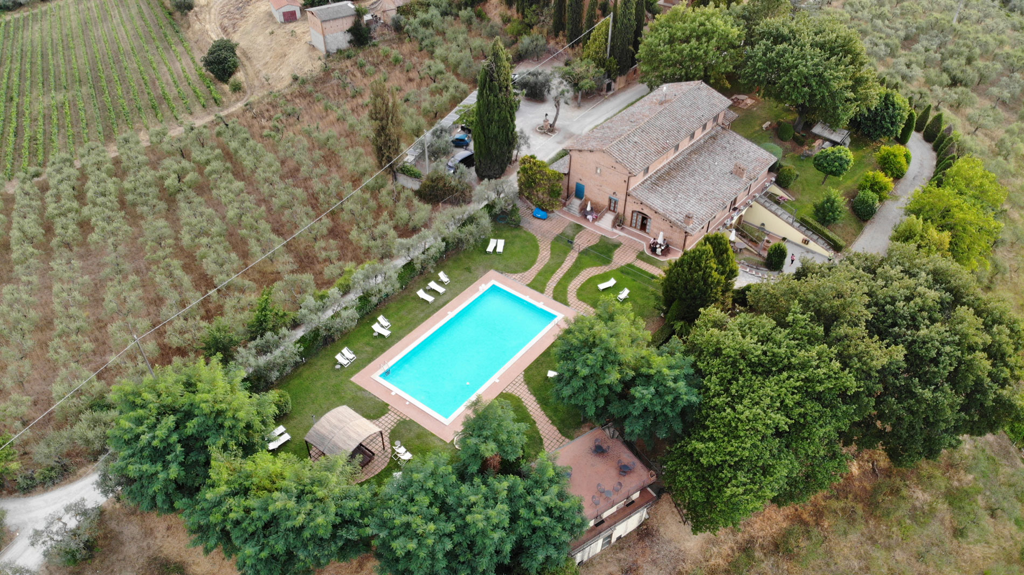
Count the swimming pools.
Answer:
1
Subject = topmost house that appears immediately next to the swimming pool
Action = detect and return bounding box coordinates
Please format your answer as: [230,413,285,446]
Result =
[560,77,769,250]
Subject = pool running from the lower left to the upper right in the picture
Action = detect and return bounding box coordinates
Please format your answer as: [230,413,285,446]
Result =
[371,279,565,425]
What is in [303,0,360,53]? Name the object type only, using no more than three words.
barn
